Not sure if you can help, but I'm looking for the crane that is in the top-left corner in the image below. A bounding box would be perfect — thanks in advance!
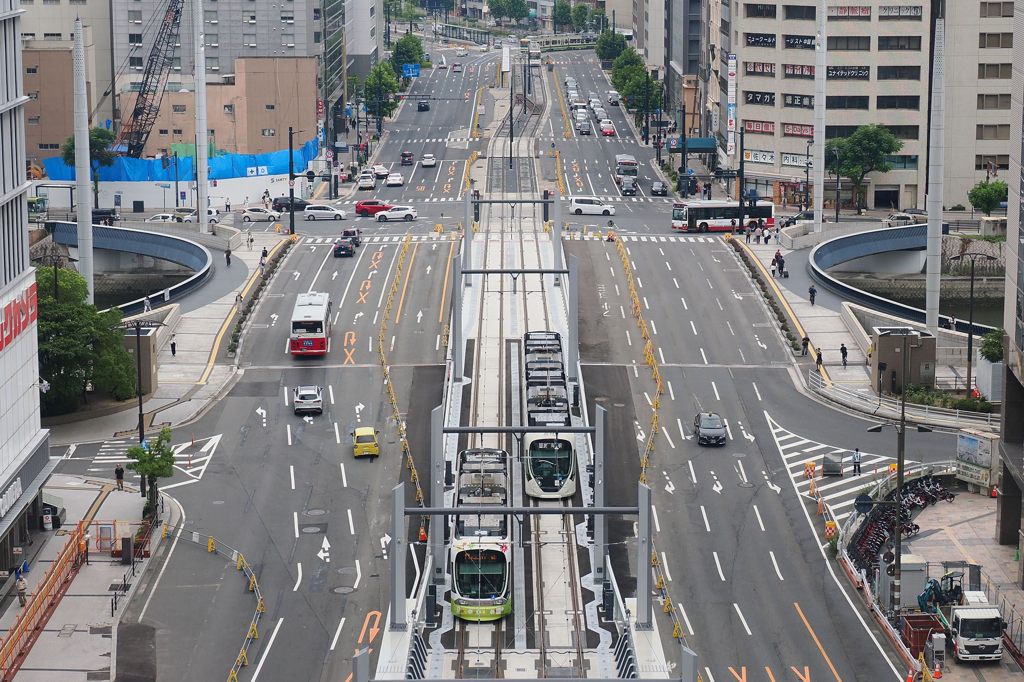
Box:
[85,0,194,160]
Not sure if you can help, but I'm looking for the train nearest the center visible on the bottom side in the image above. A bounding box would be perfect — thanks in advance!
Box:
[522,332,575,496]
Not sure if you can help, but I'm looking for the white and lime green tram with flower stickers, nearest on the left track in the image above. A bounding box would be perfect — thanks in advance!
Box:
[450,453,511,618]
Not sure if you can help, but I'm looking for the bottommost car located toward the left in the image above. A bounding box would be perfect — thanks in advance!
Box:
[353,426,385,459]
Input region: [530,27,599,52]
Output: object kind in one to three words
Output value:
rail car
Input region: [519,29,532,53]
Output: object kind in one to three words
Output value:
rail car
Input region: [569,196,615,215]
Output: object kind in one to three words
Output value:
car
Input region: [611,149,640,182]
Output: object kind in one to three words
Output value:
bus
